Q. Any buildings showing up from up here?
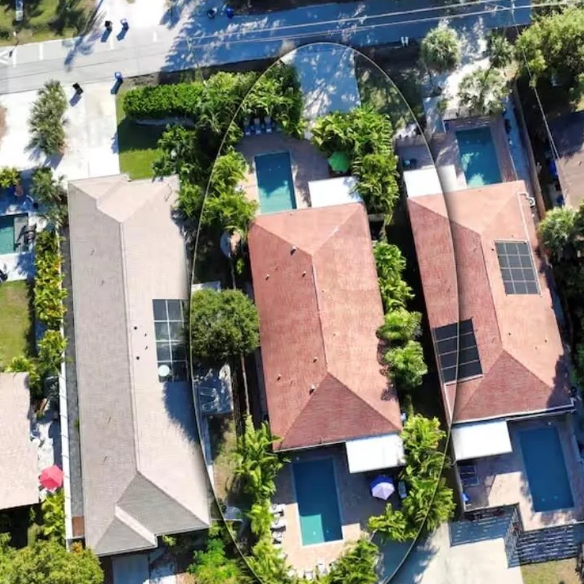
Yes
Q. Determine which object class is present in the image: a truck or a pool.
pool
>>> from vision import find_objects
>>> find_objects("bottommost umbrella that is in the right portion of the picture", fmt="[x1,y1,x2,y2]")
[370,475,396,500]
